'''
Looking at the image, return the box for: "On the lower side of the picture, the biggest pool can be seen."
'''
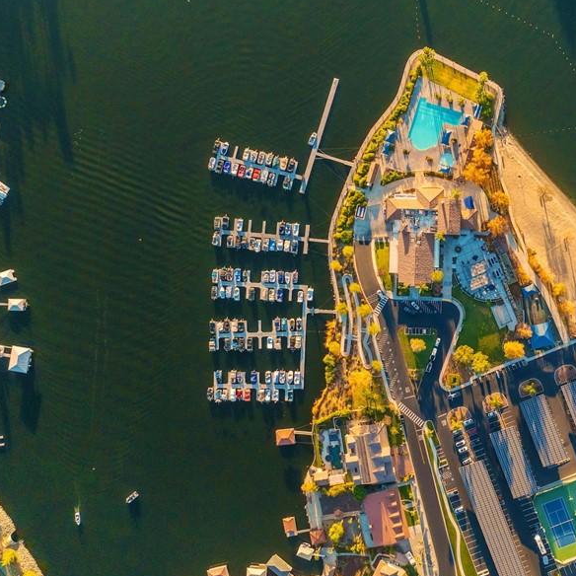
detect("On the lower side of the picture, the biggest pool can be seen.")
[328,443,343,468]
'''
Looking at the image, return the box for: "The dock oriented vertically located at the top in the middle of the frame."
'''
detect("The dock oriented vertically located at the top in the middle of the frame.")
[300,77,353,193]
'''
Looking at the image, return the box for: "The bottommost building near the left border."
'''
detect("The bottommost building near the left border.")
[8,345,38,372]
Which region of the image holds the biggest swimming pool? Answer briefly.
top right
